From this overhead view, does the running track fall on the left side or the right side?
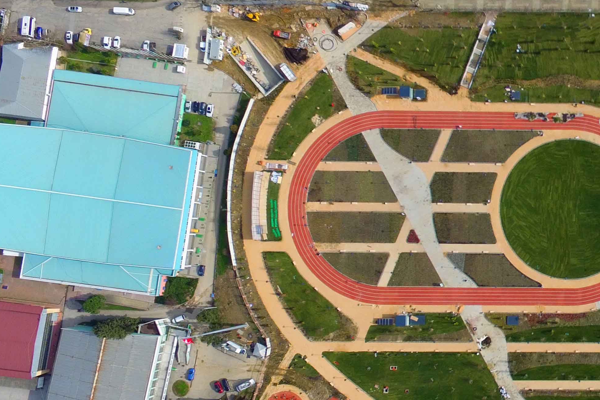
right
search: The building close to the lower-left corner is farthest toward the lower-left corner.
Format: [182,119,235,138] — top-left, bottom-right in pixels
[0,296,66,381]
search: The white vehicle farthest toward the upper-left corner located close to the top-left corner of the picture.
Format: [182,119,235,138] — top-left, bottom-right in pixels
[17,14,31,36]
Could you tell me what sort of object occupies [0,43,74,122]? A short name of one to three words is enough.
building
